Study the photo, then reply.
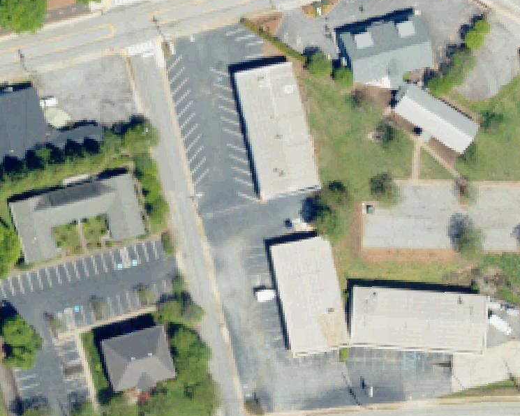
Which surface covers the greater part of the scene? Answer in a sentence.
The largest share of the image is taken up by paved ground.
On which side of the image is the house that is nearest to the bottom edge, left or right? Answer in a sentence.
The house that is nearest to the bottom edge sits on the left side.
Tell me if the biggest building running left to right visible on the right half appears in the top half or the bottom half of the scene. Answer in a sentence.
Seen from above, the biggest building running left to right visible on the right half lies in the bottom half of the view.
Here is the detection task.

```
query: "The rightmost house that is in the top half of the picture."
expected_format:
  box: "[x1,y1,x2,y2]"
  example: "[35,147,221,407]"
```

[396,84,480,154]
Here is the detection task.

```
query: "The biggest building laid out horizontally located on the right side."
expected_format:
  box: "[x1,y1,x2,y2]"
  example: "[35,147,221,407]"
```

[349,286,487,358]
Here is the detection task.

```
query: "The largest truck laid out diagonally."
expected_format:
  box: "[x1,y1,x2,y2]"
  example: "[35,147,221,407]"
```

[487,311,512,334]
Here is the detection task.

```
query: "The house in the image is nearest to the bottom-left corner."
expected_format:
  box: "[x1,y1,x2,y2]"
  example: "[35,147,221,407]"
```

[101,325,176,393]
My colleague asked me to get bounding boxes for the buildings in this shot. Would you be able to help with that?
[349,286,487,358]
[338,16,433,88]
[0,87,49,159]
[101,325,176,393]
[234,62,322,201]
[270,235,349,358]
[396,84,480,154]
[9,174,145,262]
